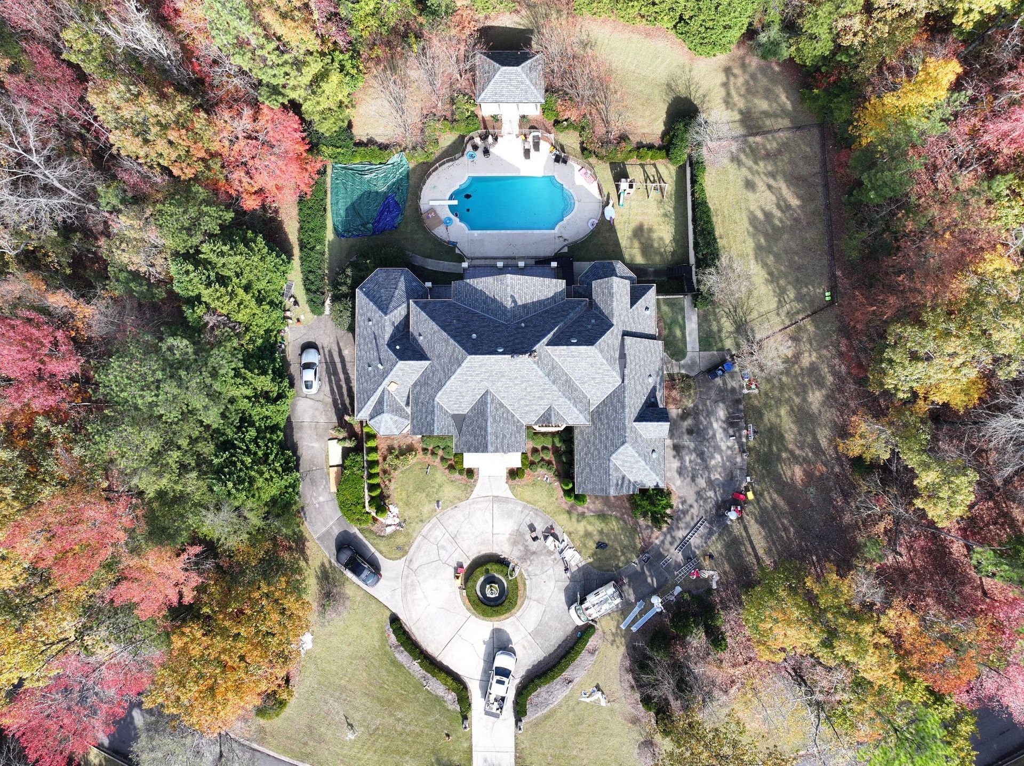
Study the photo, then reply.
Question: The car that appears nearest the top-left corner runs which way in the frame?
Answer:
vertically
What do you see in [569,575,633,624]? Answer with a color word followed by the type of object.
white van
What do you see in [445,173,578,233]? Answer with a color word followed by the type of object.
blue swimming pool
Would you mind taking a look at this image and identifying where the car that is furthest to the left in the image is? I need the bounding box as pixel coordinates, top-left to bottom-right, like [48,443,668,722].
[300,349,321,395]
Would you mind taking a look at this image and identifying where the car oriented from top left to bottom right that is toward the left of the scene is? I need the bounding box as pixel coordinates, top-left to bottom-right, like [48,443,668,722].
[338,546,381,588]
